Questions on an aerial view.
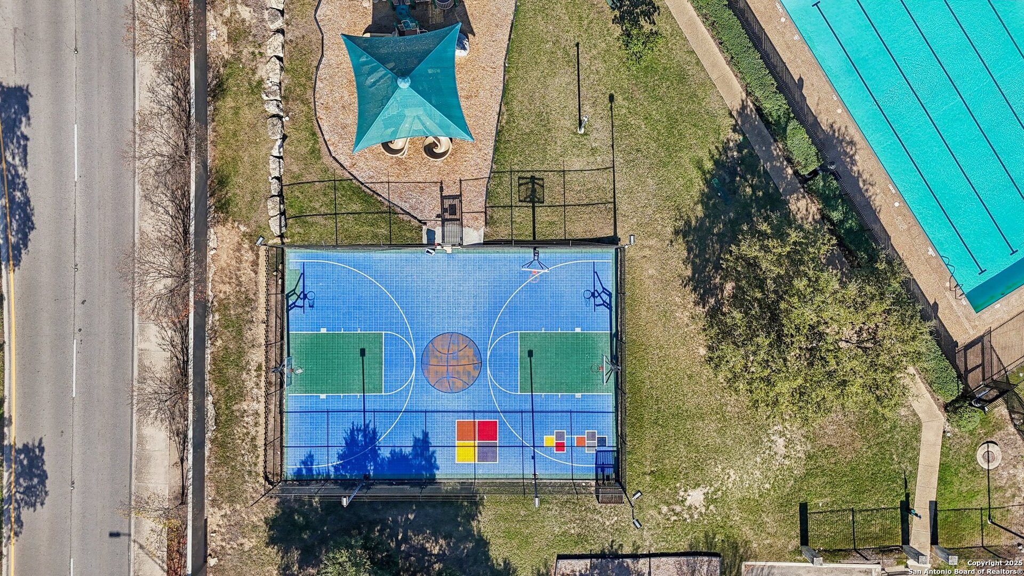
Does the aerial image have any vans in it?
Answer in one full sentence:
No, no van can be seen from above.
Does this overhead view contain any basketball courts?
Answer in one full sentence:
Yes, a basketball court is visible in the scene.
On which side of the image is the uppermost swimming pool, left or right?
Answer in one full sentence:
You can find the uppermost swimming pool on the right side of the picture.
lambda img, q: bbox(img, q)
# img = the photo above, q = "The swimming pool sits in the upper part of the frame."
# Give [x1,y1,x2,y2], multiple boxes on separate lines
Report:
[774,0,1024,321]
